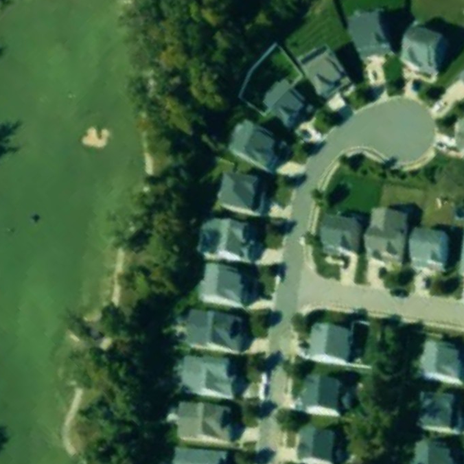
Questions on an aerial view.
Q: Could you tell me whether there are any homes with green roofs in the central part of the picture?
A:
Yes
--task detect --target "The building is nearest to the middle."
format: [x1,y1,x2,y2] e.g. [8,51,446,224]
[199,219,250,260]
